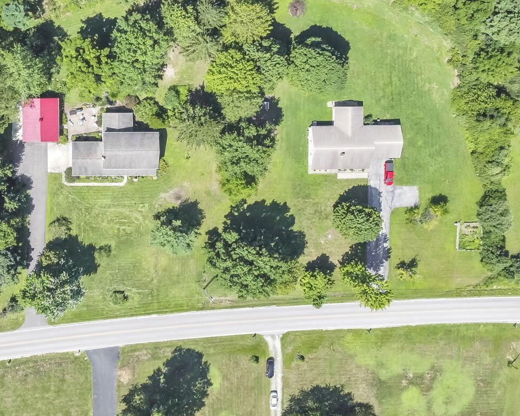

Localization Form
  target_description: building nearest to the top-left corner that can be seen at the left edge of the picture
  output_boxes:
[23,98,60,143]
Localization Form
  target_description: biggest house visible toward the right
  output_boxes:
[308,105,404,180]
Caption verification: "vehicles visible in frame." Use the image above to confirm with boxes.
[270,391,279,411]
[384,161,395,186]
[265,358,276,379]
